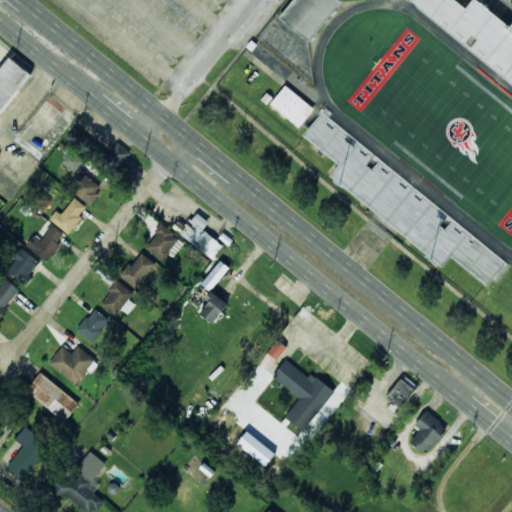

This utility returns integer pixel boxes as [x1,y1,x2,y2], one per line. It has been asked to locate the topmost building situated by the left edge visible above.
[0,58,30,113]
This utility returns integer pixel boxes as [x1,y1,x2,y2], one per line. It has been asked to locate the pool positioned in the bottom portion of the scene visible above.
[109,466,130,486]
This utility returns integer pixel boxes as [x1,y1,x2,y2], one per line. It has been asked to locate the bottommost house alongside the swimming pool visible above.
[54,452,108,512]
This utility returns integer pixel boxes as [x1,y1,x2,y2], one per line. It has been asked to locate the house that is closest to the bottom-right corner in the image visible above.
[411,410,448,454]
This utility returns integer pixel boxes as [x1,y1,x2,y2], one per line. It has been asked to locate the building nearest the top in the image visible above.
[280,0,341,40]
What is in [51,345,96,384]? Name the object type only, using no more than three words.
house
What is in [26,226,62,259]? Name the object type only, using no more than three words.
house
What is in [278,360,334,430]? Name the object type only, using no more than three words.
building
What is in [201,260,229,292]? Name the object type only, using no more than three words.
barn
